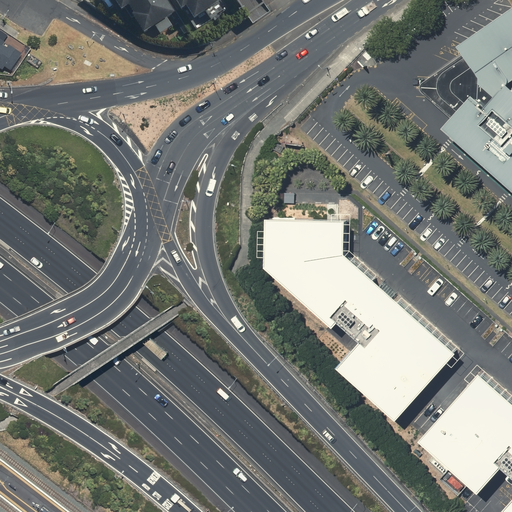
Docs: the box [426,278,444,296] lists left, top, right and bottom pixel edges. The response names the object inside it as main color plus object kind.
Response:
white vehicle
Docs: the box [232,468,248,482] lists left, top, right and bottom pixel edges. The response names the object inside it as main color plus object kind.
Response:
white vehicle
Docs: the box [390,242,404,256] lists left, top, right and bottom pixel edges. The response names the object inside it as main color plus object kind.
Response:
blue car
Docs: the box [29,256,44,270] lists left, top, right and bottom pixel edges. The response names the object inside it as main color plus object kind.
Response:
white car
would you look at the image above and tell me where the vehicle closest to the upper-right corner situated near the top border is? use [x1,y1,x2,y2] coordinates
[357,2,378,18]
